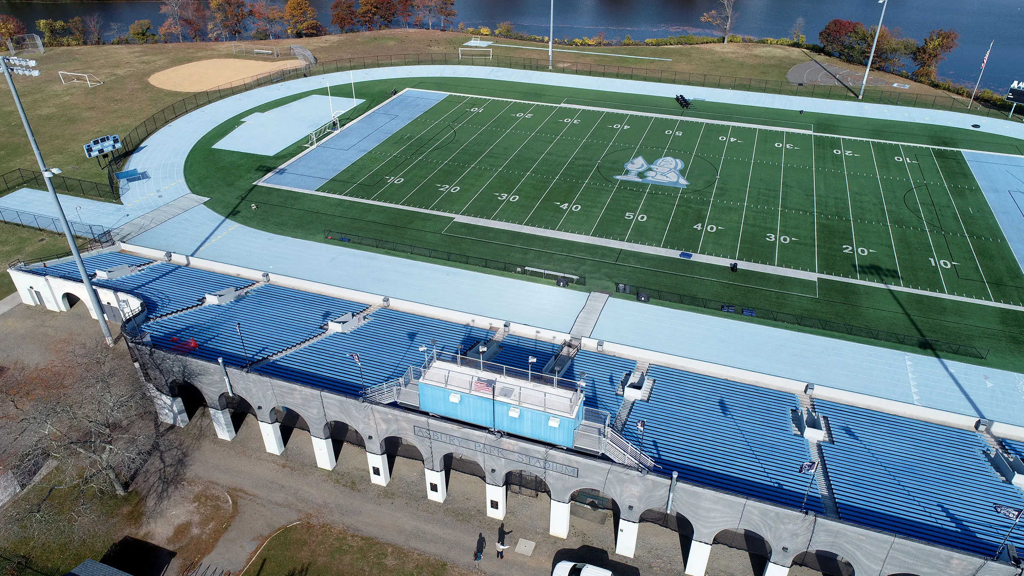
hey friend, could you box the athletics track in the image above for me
[0,65,1024,425]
